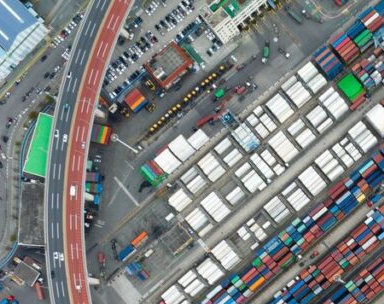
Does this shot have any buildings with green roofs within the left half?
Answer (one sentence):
Yes, a building with a green roof is visible within the left half.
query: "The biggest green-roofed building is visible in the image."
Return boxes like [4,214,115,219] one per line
[23,113,57,178]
